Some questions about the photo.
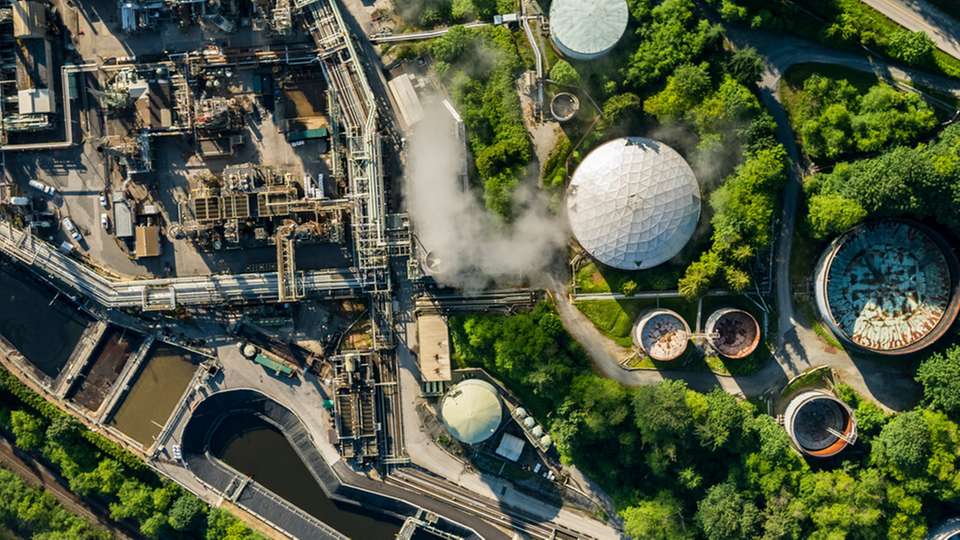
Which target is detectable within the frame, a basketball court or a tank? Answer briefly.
tank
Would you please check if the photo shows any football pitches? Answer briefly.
No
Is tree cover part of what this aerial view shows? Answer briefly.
Yes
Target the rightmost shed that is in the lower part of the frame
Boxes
[496,427,524,460]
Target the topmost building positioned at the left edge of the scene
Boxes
[14,0,61,44]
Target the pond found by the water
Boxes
[178,387,490,540]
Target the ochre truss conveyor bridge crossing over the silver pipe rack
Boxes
[276,232,302,304]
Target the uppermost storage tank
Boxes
[543,0,630,68]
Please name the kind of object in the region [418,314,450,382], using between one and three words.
shed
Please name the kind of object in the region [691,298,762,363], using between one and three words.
storage tank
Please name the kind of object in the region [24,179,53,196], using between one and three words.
vehicle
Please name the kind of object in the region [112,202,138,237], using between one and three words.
building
